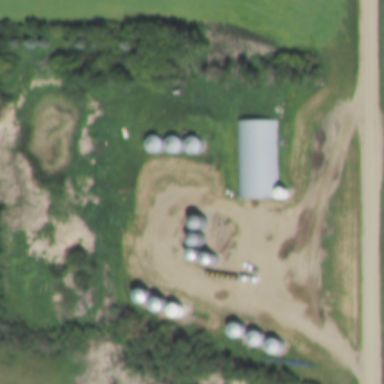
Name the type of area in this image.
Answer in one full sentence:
This looks like an industrial area.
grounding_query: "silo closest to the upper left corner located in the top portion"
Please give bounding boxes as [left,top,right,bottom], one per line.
[144,134,166,154]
